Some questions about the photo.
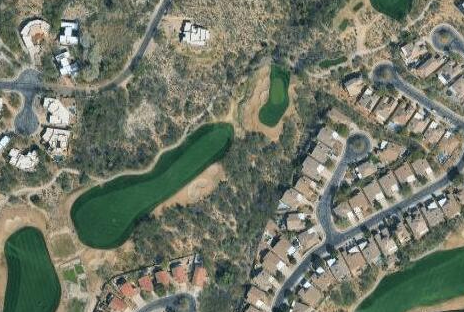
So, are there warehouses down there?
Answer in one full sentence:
No, there isn't any warehouse down there.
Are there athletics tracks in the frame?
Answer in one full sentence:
No, the photo shows no athletics track.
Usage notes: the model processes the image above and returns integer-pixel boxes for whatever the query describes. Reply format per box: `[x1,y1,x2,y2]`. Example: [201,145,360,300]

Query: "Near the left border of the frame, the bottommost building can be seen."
[6,149,38,171]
